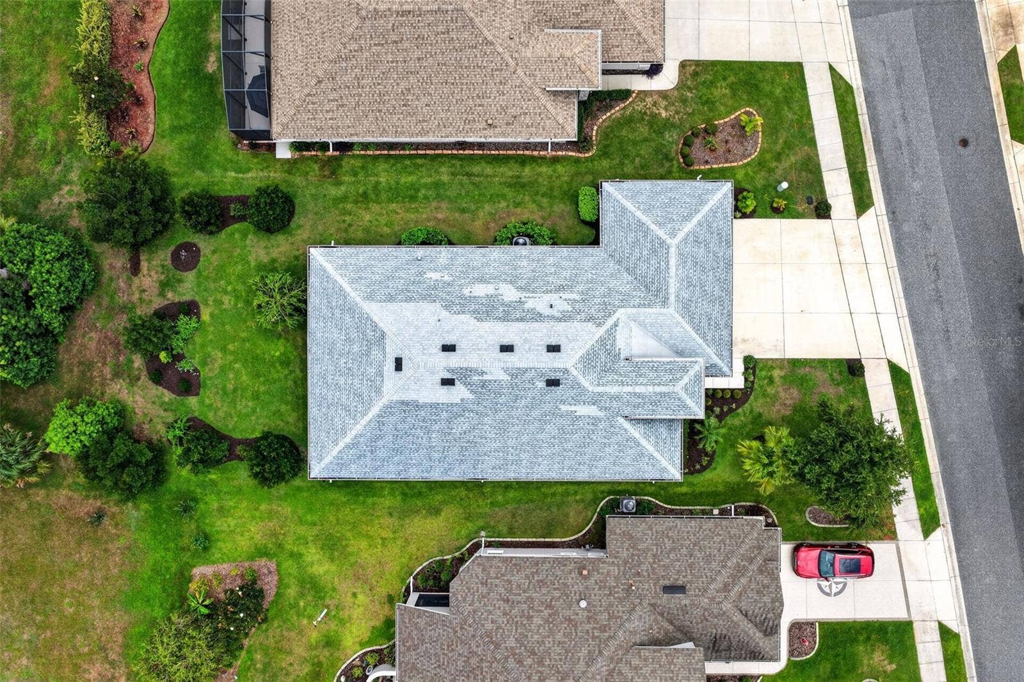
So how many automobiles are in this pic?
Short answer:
1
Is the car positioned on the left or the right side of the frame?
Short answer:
right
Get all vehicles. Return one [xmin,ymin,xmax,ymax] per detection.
[792,542,876,584]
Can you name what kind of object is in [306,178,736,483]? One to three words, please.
house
